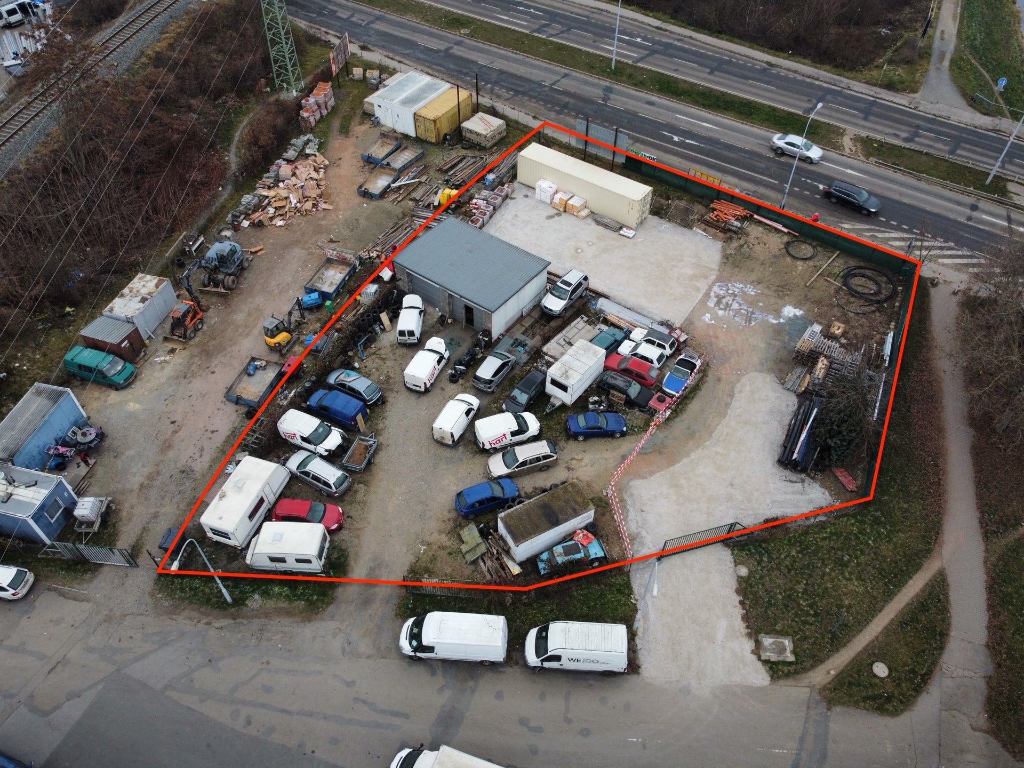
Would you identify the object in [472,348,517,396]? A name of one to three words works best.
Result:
car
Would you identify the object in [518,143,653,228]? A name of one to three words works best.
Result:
shipping container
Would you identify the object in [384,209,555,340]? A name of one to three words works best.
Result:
building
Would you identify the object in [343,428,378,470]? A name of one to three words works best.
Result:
trailer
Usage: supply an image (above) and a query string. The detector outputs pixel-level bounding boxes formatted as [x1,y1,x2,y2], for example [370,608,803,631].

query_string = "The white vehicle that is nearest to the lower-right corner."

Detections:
[521,620,630,678]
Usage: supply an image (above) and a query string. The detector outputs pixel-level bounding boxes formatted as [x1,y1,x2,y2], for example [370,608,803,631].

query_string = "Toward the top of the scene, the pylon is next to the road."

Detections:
[257,0,305,97]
